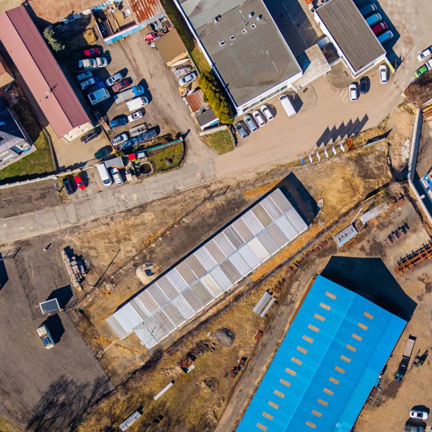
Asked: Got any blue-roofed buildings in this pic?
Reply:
Yes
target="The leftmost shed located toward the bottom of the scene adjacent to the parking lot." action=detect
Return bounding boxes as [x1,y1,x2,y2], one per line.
[106,187,309,350]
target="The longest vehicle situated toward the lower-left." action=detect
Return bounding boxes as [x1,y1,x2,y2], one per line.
[38,324,56,348]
